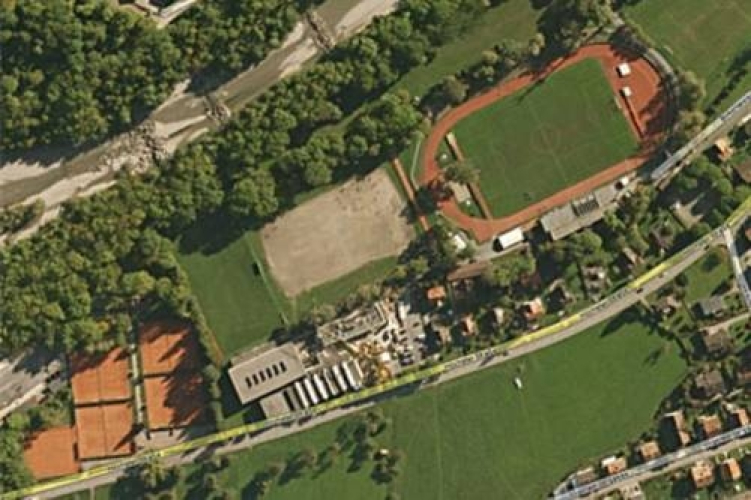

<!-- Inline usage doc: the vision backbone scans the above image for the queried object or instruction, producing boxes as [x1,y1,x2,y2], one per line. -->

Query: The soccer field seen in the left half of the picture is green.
[171,224,291,362]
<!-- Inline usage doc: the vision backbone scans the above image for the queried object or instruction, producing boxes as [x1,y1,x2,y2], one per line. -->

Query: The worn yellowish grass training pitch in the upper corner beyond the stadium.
[622,0,751,122]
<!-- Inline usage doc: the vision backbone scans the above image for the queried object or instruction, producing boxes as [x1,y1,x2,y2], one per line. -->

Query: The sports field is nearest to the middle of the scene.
[260,166,415,298]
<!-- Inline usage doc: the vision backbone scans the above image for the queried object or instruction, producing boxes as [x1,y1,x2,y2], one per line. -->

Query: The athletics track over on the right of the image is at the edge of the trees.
[417,44,664,243]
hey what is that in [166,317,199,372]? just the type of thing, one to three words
tennis court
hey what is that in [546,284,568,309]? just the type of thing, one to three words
house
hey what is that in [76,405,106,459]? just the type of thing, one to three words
tennis court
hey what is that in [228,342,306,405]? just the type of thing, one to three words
building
